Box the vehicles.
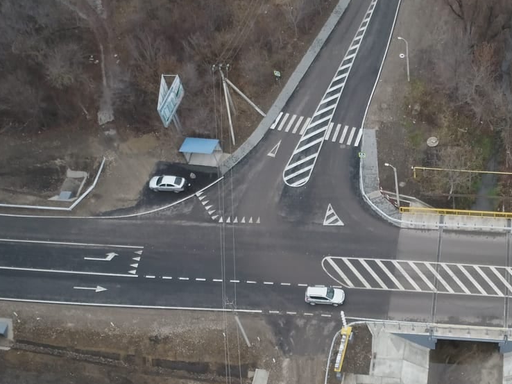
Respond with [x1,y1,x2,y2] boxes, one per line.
[149,174,190,194]
[304,285,346,307]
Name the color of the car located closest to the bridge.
white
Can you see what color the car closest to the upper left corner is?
white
